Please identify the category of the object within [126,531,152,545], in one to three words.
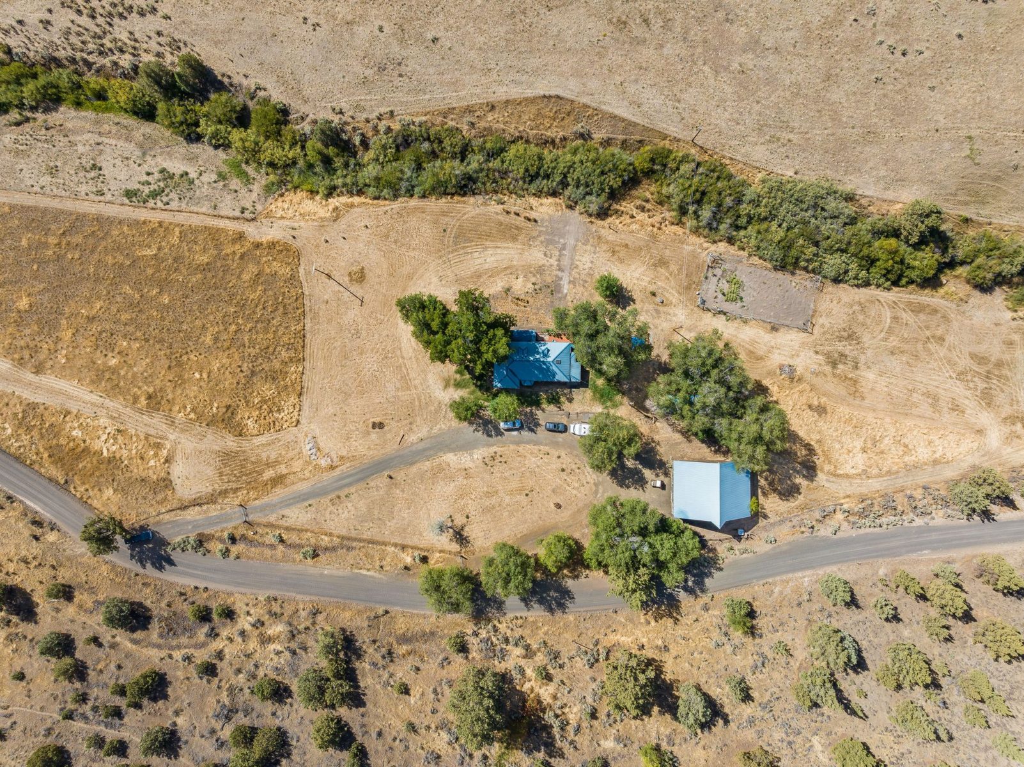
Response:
vehicle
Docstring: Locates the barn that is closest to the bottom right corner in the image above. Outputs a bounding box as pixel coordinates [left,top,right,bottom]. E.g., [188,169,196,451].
[671,460,751,530]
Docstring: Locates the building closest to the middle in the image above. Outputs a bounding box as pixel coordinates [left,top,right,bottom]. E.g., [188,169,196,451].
[493,330,581,389]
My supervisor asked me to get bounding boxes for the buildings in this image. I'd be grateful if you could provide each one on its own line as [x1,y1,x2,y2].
[671,460,751,530]
[493,330,581,389]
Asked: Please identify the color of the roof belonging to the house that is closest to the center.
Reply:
blue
